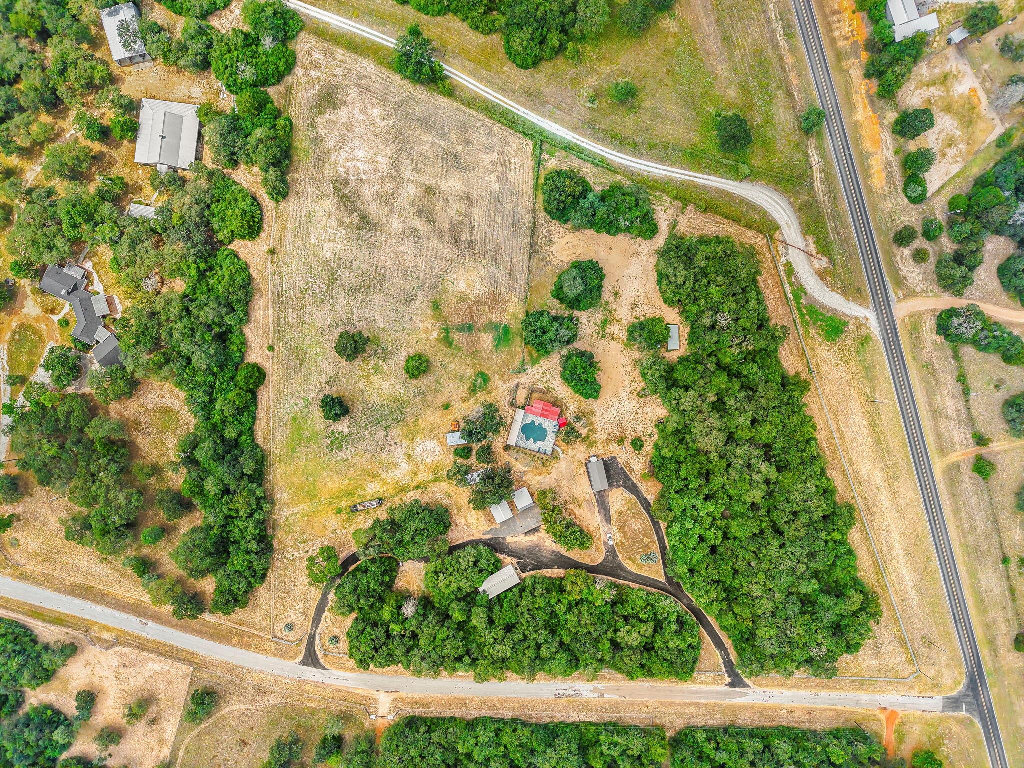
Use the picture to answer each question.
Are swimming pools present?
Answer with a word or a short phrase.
Yes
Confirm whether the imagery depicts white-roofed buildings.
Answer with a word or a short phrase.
Yes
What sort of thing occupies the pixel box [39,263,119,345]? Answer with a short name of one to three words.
house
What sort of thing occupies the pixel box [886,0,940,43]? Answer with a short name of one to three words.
house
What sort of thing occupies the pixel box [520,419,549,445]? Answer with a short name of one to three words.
swimming pool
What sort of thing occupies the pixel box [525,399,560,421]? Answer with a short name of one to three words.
building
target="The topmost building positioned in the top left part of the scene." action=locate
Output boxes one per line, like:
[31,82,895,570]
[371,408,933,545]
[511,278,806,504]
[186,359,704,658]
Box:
[101,3,153,70]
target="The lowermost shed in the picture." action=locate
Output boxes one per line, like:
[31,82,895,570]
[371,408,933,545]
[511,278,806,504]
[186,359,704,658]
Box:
[478,561,521,600]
